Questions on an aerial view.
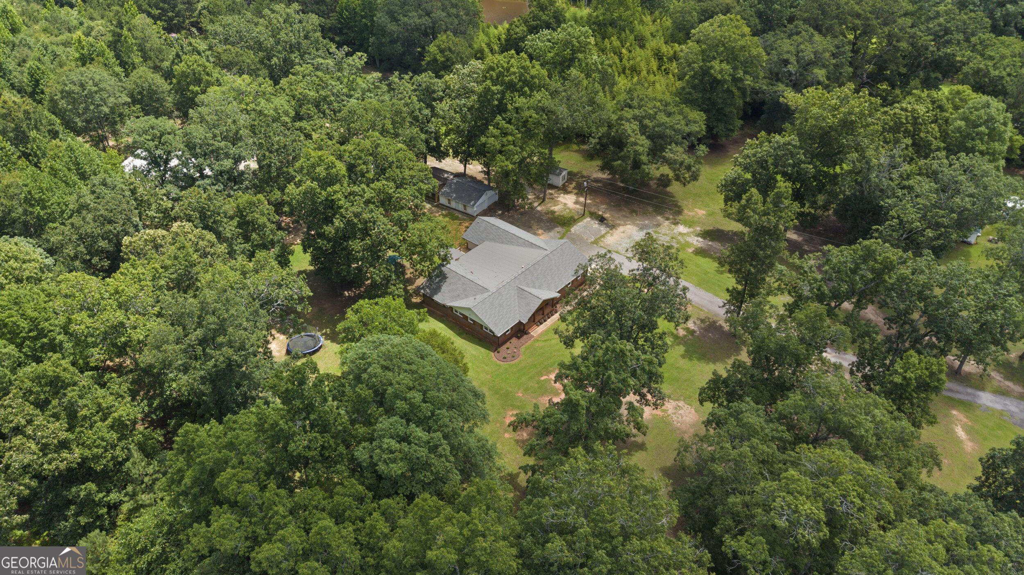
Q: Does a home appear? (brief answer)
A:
Yes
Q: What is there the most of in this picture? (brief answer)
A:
trees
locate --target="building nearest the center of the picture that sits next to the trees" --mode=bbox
[422,217,592,347]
